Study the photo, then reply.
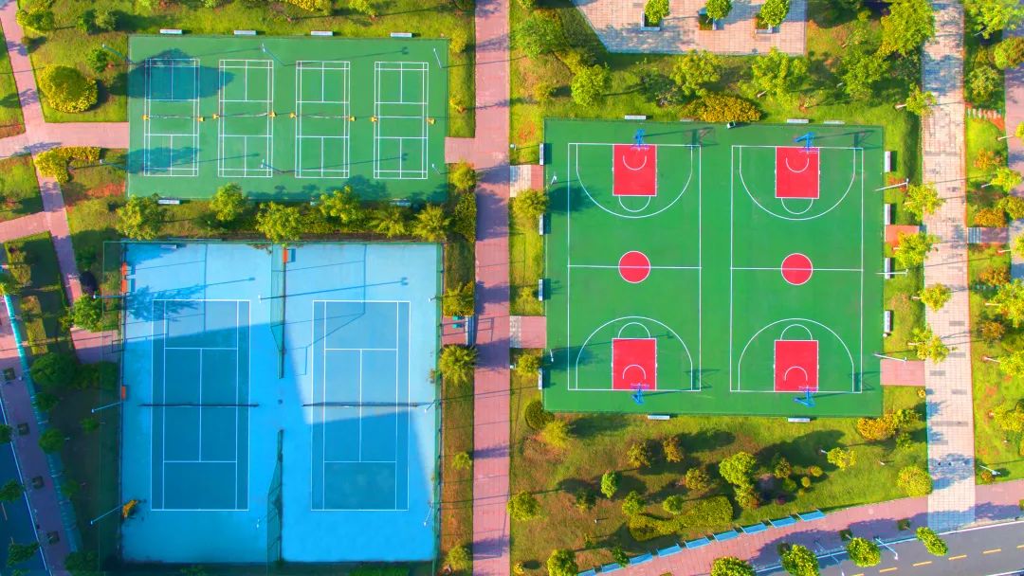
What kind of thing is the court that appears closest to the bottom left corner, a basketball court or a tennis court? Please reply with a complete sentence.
What you see as the court that appears closest to the bottom left corner is a tennis court.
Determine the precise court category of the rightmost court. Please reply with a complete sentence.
Looking closely, the rightmost court is a basketball court.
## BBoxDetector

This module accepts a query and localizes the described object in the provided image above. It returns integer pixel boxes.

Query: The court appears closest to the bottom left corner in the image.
[151,300,250,511]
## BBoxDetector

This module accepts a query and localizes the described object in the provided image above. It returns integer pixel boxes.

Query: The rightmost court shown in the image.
[730,145,863,393]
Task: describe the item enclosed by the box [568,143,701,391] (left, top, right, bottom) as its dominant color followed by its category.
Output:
green basketball court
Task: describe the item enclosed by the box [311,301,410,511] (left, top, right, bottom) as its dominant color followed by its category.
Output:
blue tennis court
